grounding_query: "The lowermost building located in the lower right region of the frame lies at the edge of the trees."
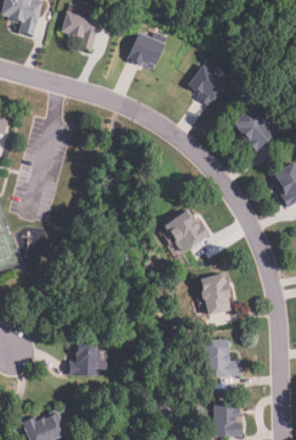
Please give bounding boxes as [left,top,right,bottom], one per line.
[214,406,244,440]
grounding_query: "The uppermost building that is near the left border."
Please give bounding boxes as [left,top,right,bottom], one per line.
[3,0,44,36]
